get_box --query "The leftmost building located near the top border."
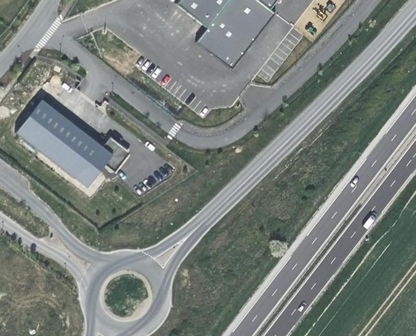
[176,0,279,68]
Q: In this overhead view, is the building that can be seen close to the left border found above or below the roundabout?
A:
above it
